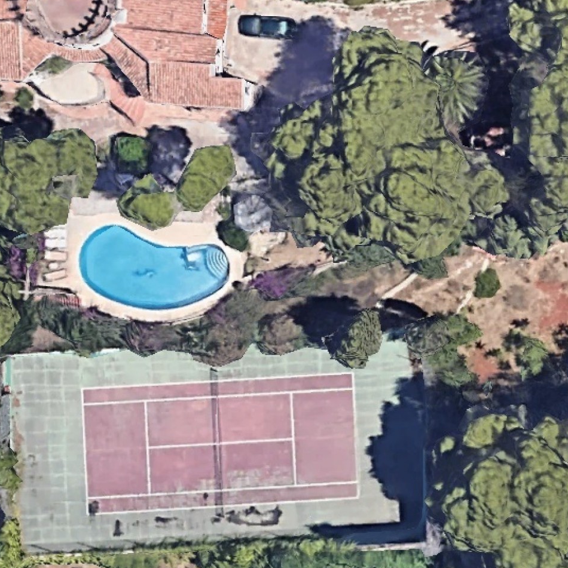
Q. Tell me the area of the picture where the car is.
top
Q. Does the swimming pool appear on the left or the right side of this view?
left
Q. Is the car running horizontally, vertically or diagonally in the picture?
horizontally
